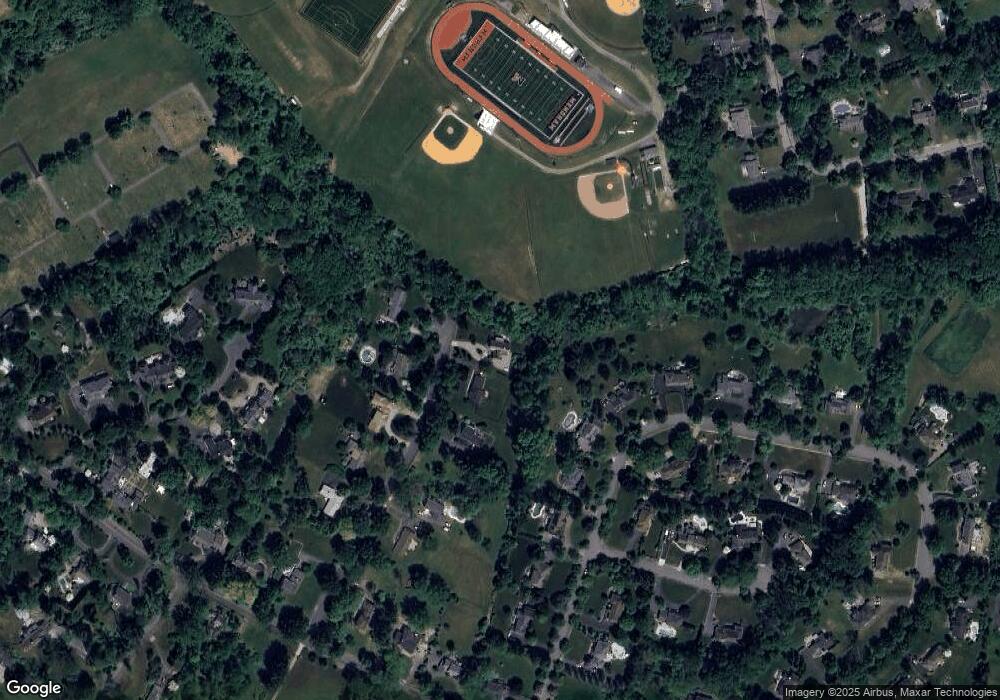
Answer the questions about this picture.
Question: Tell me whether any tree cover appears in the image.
Yes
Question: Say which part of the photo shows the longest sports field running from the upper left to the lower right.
top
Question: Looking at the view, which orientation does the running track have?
at an angle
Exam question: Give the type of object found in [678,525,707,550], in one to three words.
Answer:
house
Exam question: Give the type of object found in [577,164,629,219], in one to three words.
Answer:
baseball field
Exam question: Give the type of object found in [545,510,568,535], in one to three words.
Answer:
house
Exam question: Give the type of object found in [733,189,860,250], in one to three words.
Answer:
sports field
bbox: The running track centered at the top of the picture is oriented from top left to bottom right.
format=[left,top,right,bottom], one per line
[433,2,613,156]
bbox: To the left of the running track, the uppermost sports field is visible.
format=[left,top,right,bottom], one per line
[301,0,398,55]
